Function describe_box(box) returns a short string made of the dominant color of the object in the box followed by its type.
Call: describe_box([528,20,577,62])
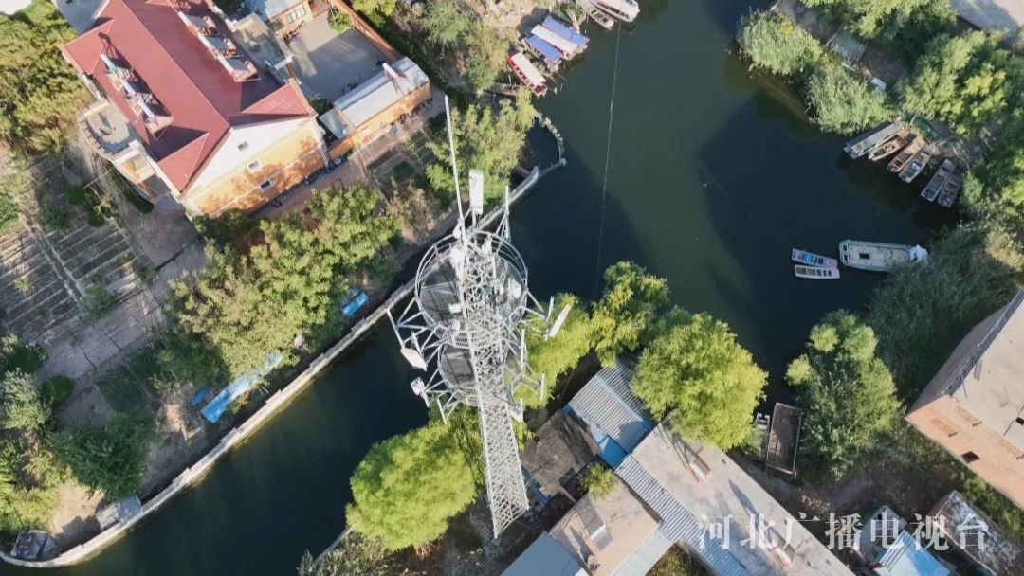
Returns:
white boat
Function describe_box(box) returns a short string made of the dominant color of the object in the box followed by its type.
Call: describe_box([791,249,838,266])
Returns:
blue boat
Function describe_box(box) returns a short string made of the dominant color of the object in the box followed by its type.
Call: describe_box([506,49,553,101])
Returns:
white boat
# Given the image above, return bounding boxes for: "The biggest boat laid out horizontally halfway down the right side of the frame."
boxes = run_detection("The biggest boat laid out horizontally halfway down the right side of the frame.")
[836,242,932,266]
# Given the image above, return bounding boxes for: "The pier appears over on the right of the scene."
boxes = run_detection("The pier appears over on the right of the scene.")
[753,411,772,449]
